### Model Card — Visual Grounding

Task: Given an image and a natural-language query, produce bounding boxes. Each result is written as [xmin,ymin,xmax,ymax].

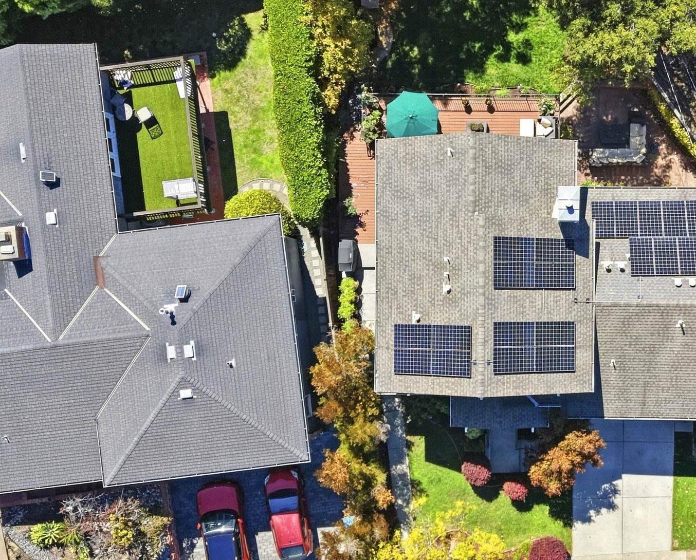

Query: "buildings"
[0,42,322,496]
[374,133,696,433]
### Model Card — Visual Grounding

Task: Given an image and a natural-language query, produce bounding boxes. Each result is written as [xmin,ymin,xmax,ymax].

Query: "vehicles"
[263,469,315,560]
[197,483,255,560]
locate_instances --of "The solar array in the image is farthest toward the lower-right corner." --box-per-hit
[494,322,575,375]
